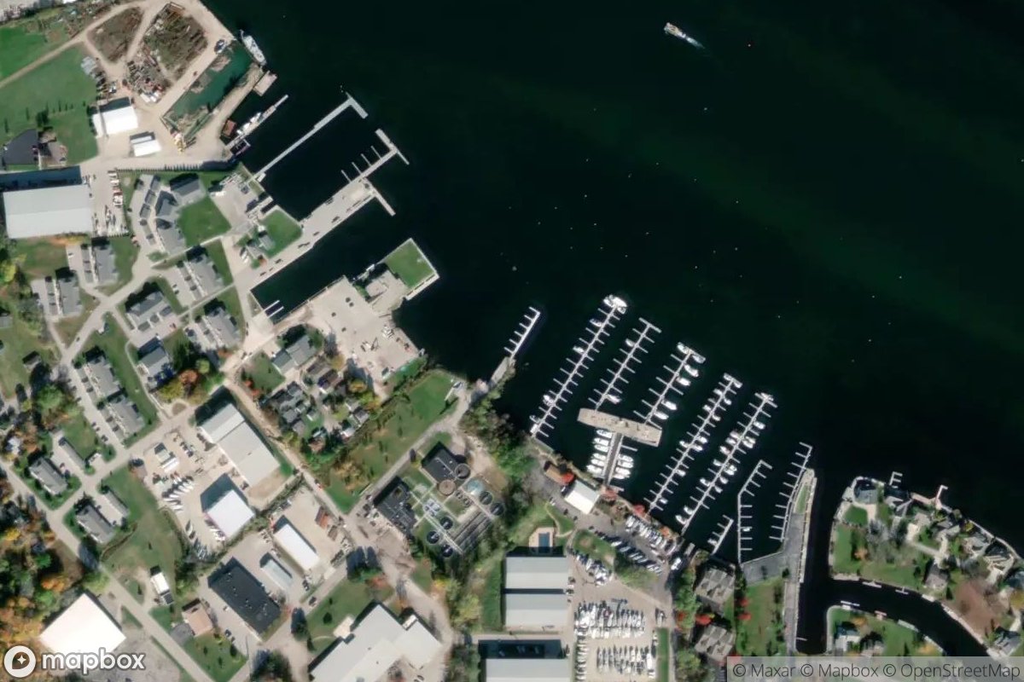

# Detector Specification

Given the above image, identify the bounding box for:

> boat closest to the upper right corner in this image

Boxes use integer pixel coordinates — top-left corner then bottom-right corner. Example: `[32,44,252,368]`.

[665,24,685,39]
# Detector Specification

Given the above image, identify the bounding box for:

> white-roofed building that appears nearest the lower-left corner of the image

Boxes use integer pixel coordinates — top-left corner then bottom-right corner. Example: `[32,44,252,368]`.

[38,594,126,676]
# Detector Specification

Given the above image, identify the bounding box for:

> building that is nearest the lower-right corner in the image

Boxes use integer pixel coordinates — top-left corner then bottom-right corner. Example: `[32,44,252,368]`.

[993,632,1023,659]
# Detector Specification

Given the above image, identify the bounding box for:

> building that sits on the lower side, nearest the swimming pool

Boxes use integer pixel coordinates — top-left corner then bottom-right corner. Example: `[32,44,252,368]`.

[503,557,568,590]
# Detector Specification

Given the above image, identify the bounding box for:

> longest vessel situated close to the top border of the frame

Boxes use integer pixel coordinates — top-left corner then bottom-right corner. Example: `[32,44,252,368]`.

[240,26,267,63]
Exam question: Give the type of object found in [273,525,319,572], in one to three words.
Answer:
building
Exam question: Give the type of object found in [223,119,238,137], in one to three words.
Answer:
ship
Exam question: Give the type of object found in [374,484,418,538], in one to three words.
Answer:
building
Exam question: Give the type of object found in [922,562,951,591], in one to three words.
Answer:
house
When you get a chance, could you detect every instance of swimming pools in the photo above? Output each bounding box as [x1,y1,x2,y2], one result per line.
[529,528,555,558]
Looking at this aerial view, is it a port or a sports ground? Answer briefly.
port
